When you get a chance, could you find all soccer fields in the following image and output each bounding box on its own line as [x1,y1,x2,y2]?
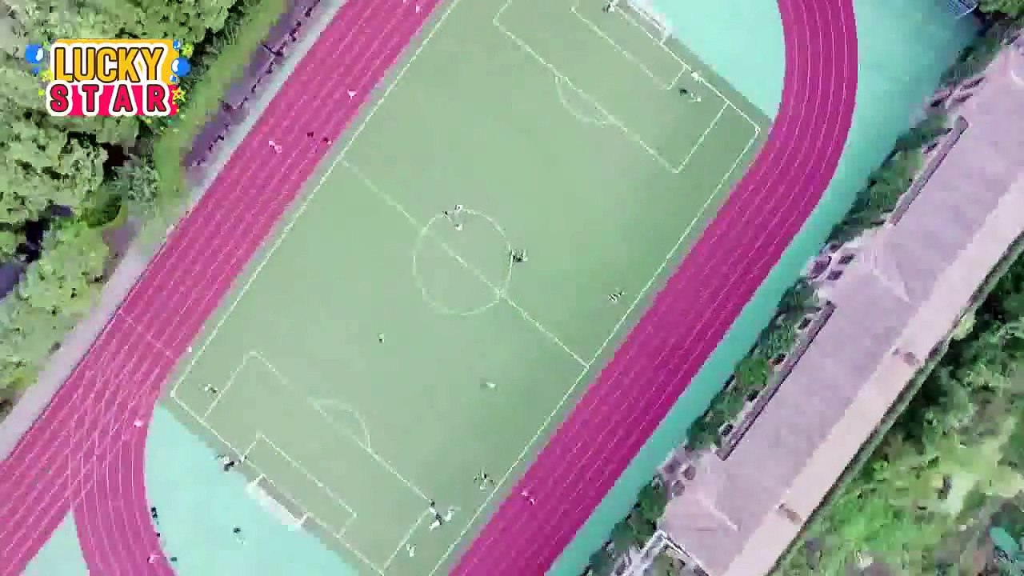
[158,0,773,576]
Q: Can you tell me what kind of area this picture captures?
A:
sports ground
